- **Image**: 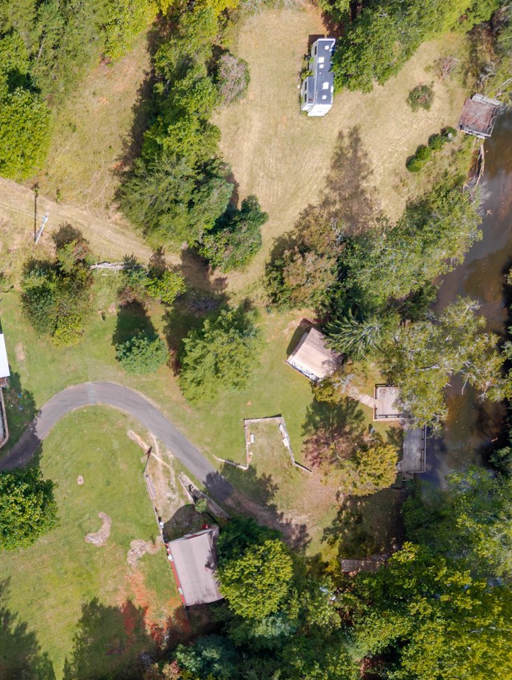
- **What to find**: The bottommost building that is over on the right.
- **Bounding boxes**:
[283,327,339,387]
